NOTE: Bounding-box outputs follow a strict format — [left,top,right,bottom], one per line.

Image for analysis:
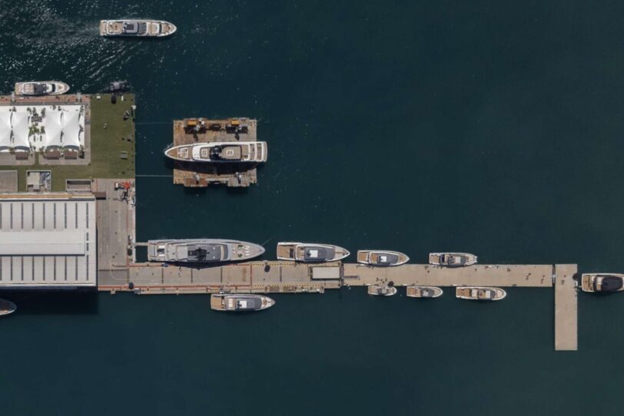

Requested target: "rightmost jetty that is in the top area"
[173,117,256,187]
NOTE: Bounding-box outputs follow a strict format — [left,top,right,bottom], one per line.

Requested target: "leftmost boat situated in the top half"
[15,81,69,95]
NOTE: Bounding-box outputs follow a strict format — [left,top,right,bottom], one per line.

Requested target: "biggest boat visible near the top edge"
[99,19,176,36]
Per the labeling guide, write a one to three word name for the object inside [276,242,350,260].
boat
